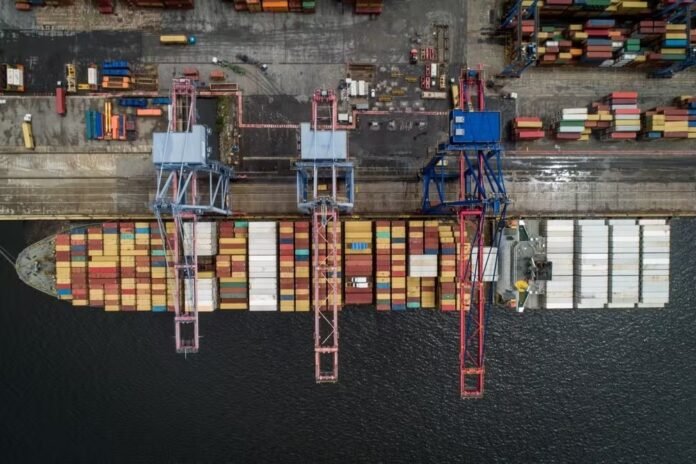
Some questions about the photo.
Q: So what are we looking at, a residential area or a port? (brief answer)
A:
port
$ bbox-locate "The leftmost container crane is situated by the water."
[150,76,253,358]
